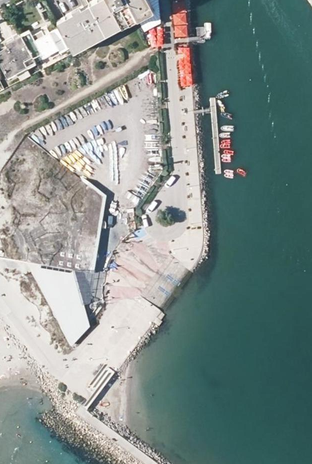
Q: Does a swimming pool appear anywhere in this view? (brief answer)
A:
No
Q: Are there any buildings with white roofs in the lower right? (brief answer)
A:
No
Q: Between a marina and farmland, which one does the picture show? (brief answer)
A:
marina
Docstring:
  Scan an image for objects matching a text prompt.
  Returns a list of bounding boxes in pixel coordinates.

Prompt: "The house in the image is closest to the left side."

[0,36,33,76]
